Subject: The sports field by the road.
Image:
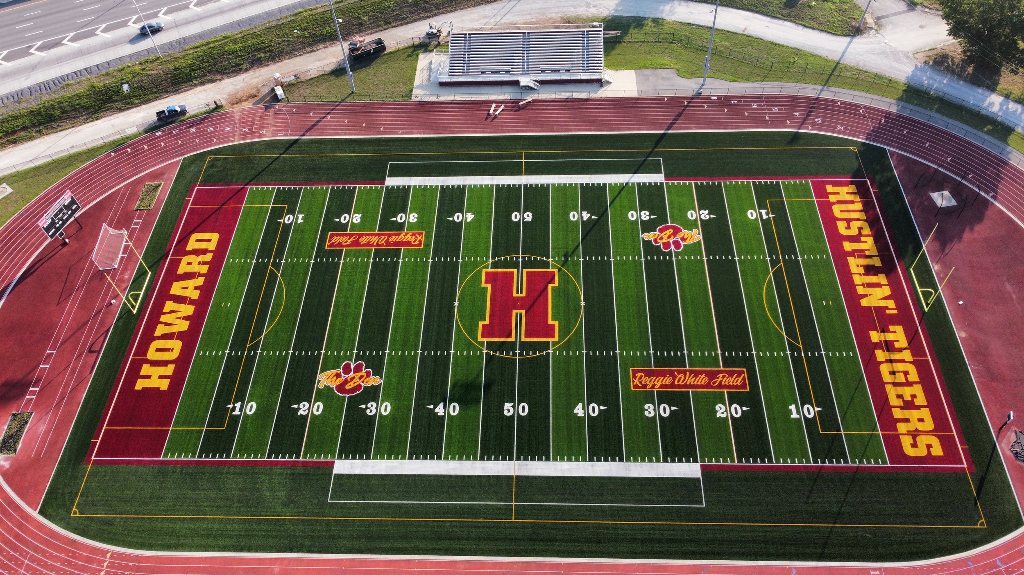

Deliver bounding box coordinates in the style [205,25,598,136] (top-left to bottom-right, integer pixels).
[39,130,1023,562]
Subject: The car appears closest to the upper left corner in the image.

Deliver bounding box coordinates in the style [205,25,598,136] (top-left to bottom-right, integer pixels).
[139,22,164,34]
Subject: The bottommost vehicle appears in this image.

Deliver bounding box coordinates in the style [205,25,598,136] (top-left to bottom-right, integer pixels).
[154,103,190,123]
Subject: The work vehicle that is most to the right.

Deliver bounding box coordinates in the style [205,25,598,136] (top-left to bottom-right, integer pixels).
[426,20,453,37]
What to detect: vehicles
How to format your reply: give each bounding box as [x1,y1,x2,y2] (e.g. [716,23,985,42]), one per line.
[139,22,164,34]
[426,20,453,37]
[347,34,365,47]
[154,103,190,123]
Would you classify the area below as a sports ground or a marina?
sports ground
